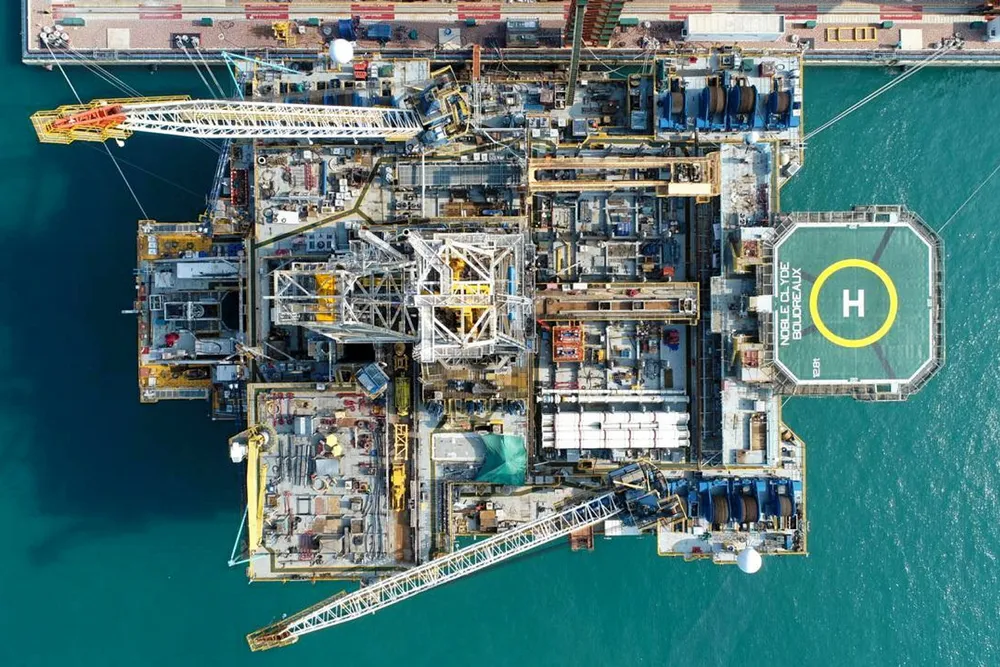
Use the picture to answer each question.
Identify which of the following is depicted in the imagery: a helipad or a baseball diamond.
helipad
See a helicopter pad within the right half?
Yes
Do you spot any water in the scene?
Yes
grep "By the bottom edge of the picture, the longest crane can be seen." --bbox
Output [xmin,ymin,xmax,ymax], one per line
[249,448,689,655]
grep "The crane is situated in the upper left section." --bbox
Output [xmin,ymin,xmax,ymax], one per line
[35,60,477,147]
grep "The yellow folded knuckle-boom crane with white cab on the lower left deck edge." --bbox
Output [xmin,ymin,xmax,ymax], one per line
[226,424,278,553]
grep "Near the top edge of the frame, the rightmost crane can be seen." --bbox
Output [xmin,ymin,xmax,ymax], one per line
[556,0,650,107]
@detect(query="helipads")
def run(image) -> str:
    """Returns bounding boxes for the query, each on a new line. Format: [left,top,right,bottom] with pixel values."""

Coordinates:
[749,204,944,403]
